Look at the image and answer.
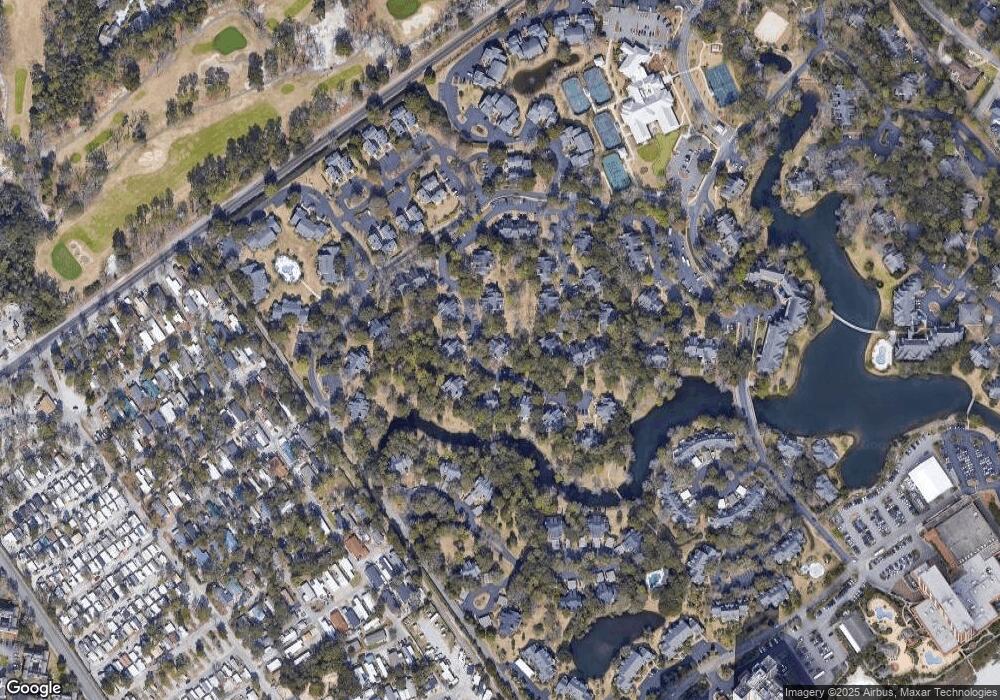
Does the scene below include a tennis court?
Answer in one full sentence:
Yes, the image includes a tennis court.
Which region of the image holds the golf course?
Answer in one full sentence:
The golf course is in the top left part of the image.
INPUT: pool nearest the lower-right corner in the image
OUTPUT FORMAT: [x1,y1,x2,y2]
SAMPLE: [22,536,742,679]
[924,651,943,665]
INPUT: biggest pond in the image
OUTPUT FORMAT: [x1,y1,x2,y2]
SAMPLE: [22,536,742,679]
[572,612,663,679]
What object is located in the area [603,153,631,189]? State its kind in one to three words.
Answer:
tennis court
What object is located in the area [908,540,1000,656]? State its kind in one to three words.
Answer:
building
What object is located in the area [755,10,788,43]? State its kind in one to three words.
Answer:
sports court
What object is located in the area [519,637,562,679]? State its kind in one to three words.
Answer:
house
